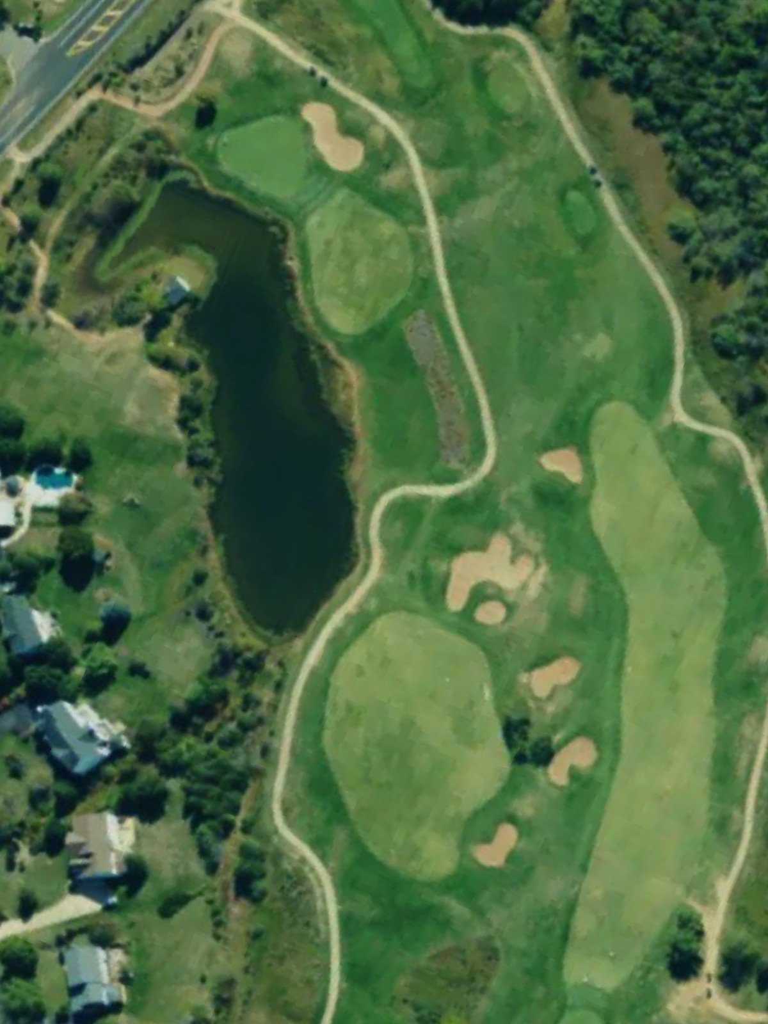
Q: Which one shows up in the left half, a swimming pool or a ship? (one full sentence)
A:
Visible in the left half is a swimming pool.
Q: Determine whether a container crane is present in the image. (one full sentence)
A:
No, I can't see a single container crane in this photo.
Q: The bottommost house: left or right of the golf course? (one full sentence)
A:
The bottommost house appears to the left of the golf course in this view.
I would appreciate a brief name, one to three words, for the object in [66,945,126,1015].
house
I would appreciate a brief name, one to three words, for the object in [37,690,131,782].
house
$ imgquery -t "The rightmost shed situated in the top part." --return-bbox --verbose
[164,279,193,307]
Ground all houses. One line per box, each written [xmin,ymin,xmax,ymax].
[4,595,57,651]
[37,690,131,782]
[66,945,126,1015]
[61,814,136,874]
[0,499,20,526]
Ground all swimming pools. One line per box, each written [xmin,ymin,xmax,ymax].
[35,464,75,491]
